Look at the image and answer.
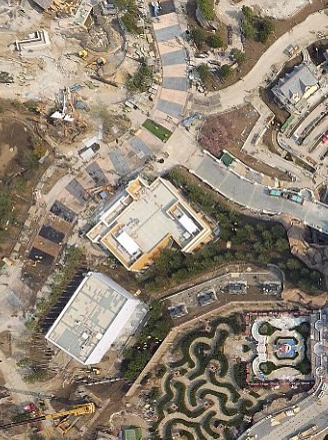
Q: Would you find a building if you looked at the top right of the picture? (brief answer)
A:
Yes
